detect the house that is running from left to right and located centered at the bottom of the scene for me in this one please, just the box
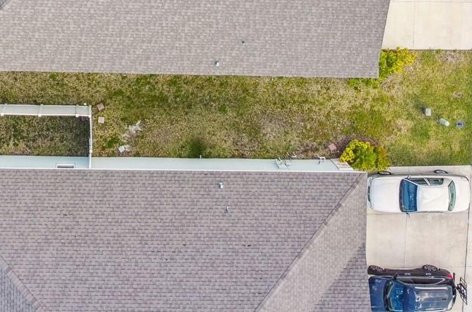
[0,157,372,312]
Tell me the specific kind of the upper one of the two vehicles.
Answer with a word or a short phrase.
car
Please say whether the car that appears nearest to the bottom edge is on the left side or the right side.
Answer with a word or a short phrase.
right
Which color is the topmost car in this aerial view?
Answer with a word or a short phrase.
white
